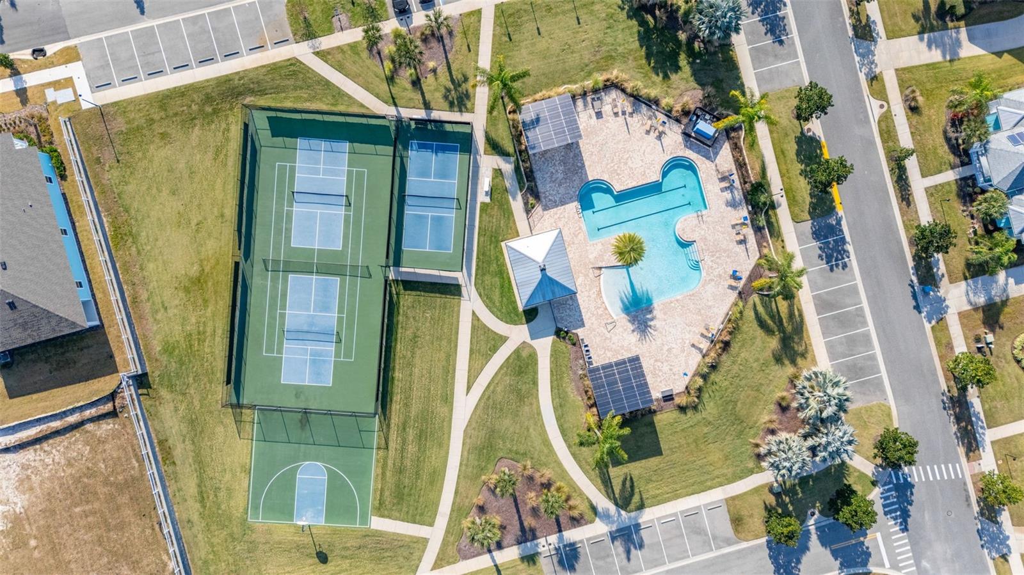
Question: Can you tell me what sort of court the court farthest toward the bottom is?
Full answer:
What you see as the court farthest toward the bottom is a basketball court.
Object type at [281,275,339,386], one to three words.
sports court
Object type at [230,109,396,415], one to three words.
tennis court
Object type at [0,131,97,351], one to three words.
house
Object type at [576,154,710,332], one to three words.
swimming pool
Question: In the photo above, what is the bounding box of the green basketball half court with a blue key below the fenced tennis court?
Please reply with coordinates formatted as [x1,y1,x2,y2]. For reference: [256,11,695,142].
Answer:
[247,408,378,529]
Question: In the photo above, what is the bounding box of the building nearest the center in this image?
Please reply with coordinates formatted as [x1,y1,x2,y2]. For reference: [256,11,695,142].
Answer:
[506,228,577,308]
